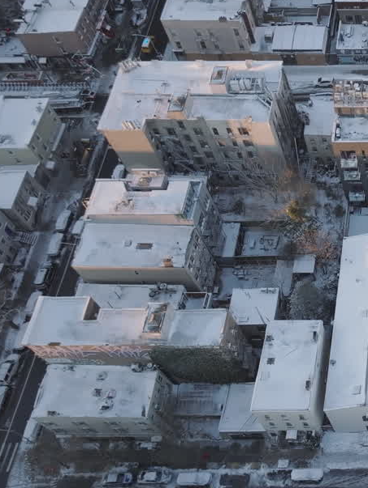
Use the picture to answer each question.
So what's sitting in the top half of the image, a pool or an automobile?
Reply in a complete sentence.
The feature located in the top half of the image is an automobile.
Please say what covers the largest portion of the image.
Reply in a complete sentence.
The largest share of the image is taken up by buildings.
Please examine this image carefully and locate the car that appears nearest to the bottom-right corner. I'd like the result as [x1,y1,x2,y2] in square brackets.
[287,467,327,484]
